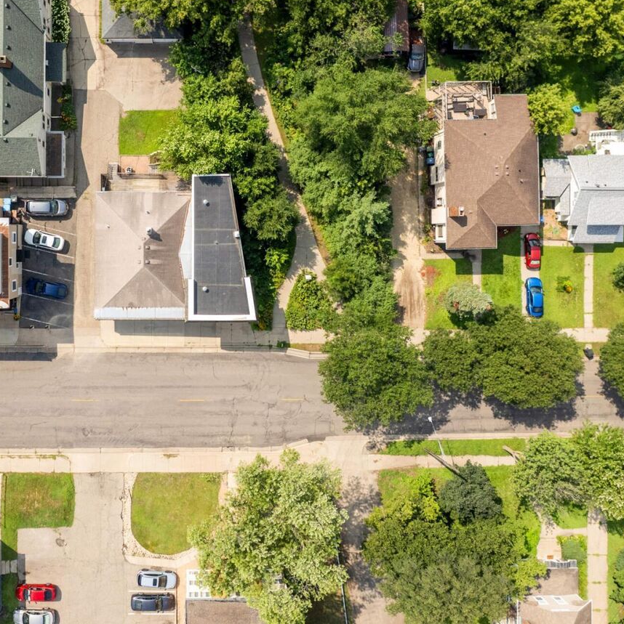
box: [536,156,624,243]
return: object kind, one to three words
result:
house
